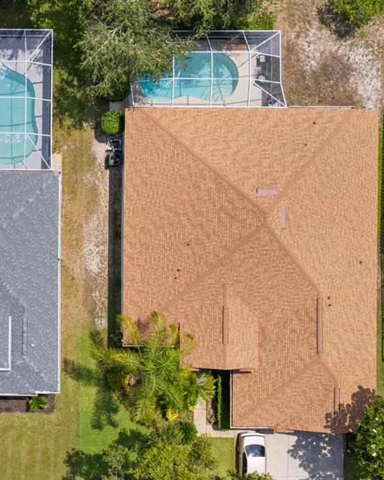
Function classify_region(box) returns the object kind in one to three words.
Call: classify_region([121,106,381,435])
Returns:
house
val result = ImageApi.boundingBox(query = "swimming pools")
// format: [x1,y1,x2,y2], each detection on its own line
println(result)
[133,45,243,105]
[0,56,41,167]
